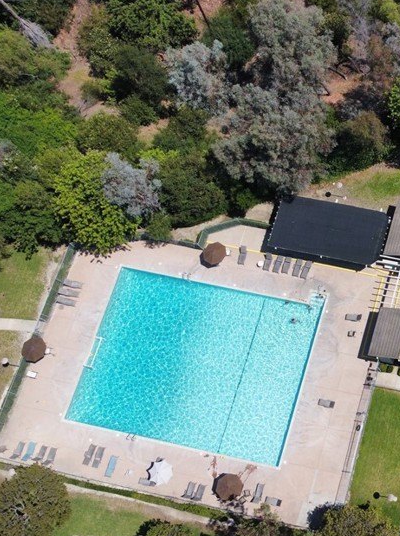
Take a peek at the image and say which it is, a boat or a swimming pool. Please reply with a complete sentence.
It is a swimming pool that can be seen here.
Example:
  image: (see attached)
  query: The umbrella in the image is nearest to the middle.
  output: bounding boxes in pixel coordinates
[203,243,227,265]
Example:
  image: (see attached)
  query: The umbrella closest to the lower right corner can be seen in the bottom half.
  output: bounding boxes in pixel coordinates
[215,472,244,501]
